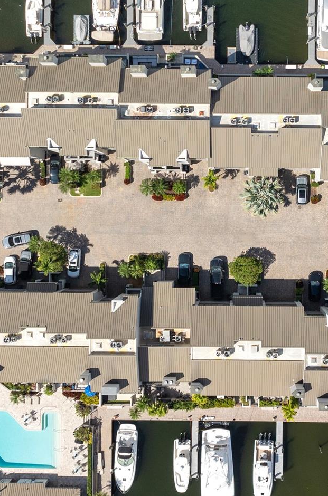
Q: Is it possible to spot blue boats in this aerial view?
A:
No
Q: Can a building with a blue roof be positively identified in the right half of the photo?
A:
No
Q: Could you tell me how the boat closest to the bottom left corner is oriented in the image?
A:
vertically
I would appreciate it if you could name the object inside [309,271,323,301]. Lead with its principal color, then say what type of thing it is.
black vehicle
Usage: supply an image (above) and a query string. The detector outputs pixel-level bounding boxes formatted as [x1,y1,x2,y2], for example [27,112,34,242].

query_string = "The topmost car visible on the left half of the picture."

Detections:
[49,154,62,184]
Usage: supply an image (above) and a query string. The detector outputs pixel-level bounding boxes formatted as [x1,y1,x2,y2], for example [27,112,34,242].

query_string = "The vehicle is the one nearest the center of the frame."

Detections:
[176,252,190,284]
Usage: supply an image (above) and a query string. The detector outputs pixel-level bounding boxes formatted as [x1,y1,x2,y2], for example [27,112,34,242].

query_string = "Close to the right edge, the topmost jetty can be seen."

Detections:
[304,0,320,64]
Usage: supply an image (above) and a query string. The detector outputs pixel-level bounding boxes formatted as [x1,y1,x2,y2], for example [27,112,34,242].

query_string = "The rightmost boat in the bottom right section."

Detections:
[253,427,274,496]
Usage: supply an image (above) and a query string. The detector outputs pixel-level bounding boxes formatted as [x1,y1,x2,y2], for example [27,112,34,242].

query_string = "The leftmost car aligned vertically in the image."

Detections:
[4,255,17,285]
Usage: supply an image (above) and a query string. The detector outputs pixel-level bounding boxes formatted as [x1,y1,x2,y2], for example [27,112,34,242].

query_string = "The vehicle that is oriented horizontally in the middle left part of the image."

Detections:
[2,232,34,247]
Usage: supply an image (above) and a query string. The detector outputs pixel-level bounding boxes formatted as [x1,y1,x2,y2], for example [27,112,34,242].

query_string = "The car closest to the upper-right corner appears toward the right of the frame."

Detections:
[295,174,309,205]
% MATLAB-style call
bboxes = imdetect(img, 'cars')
[49,154,62,184]
[2,232,34,247]
[209,255,223,288]
[66,248,81,278]
[18,249,33,279]
[4,255,17,285]
[309,271,323,301]
[176,252,190,284]
[295,174,309,205]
